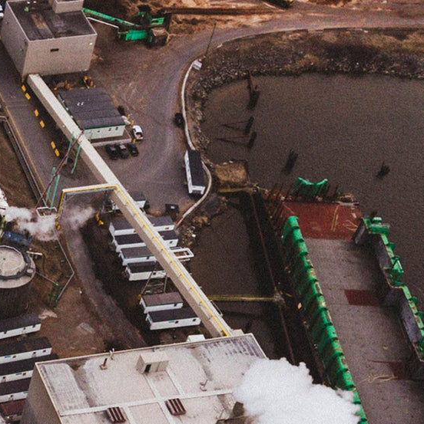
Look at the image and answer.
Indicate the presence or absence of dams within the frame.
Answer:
No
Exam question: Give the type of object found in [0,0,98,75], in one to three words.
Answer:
building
